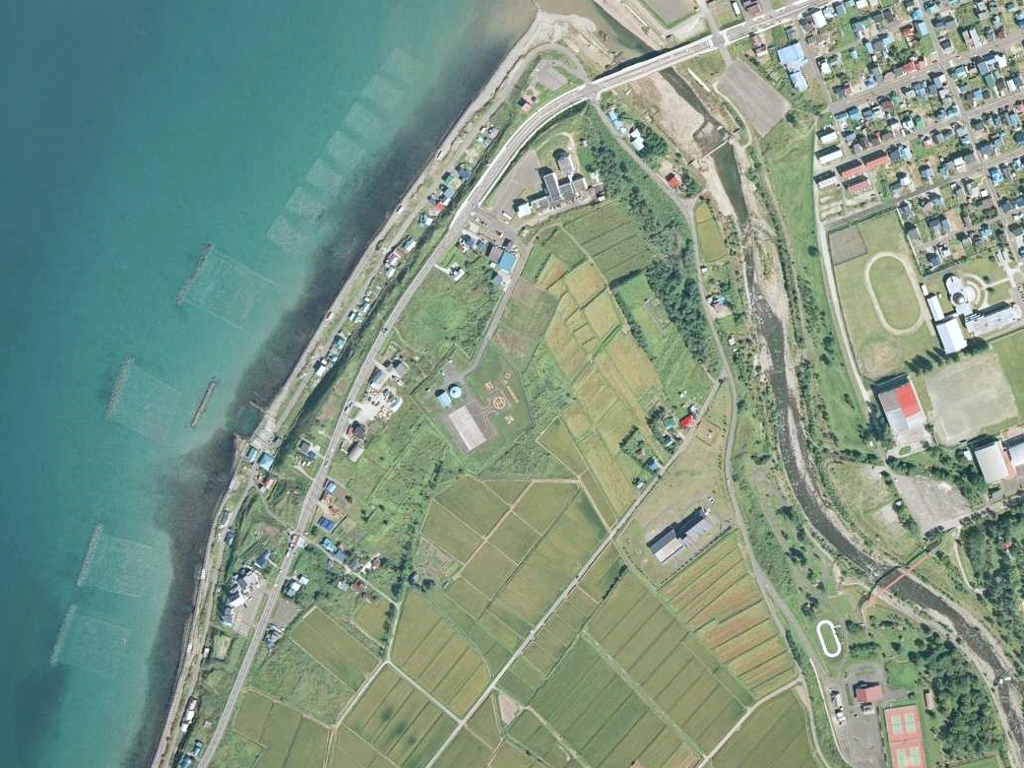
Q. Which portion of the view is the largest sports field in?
right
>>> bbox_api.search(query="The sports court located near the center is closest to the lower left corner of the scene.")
[449,406,485,450]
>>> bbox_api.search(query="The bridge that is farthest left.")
[587,35,719,98]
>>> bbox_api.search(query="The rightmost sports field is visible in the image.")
[925,354,1018,445]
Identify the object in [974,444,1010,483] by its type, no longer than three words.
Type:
building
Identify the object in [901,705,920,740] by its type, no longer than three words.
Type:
tennis court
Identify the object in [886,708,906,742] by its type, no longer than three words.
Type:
tennis court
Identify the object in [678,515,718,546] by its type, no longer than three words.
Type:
shed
